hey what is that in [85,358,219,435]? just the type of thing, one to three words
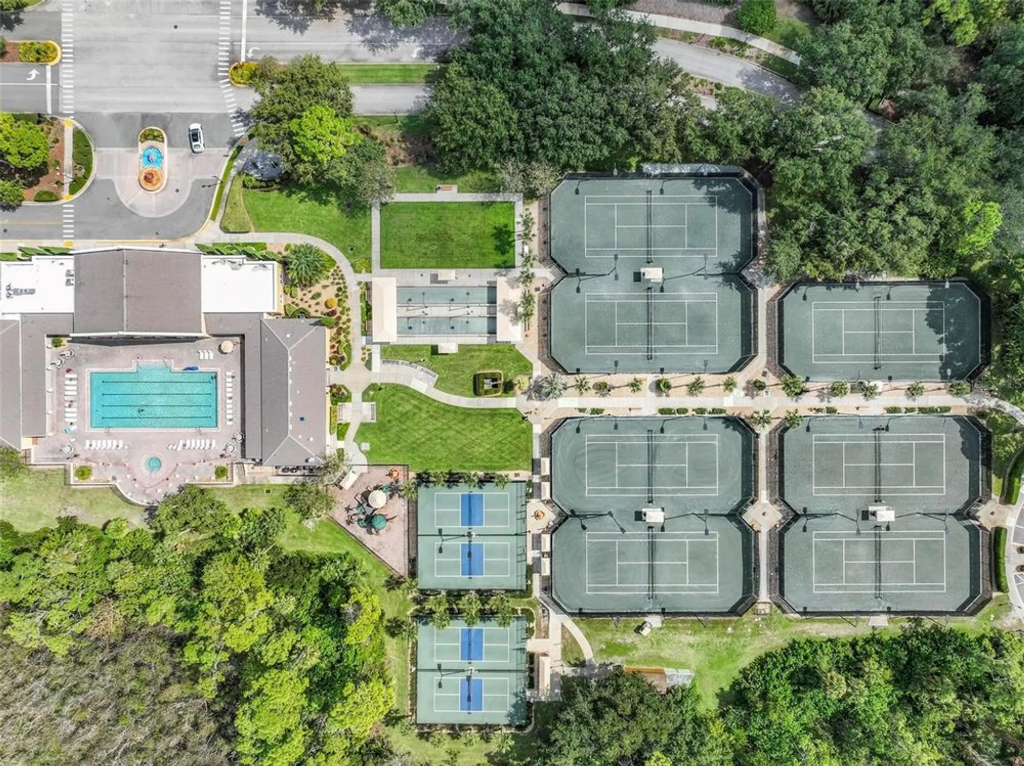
swimming pool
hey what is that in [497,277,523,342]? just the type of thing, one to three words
building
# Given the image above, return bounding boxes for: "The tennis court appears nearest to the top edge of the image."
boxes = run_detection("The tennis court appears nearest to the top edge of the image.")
[551,178,751,274]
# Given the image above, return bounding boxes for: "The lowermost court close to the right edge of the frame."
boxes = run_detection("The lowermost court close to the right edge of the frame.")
[785,514,980,610]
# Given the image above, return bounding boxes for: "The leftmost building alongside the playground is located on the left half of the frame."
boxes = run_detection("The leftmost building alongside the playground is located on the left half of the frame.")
[0,244,332,466]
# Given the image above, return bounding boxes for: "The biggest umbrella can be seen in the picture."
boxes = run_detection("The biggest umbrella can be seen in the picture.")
[221,340,234,354]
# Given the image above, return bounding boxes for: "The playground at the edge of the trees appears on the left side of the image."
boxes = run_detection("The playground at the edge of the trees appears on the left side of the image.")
[326,466,408,573]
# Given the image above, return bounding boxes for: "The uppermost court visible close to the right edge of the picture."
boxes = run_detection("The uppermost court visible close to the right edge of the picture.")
[784,283,978,379]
